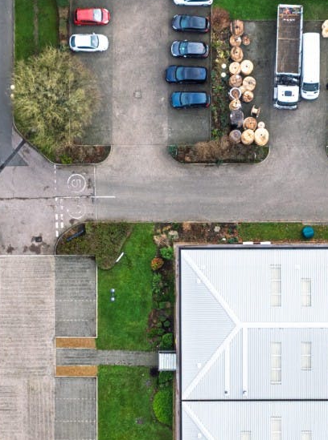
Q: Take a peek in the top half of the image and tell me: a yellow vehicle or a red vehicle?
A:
red vehicle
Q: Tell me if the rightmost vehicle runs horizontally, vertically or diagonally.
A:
vertically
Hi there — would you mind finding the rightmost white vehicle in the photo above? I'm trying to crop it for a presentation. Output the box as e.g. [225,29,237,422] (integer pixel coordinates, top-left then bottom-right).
[300,31,321,99]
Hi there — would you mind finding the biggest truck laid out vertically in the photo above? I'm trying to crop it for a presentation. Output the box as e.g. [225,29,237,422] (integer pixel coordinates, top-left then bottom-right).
[275,4,301,110]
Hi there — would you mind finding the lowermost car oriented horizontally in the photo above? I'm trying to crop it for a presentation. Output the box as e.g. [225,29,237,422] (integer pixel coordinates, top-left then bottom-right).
[172,90,209,109]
